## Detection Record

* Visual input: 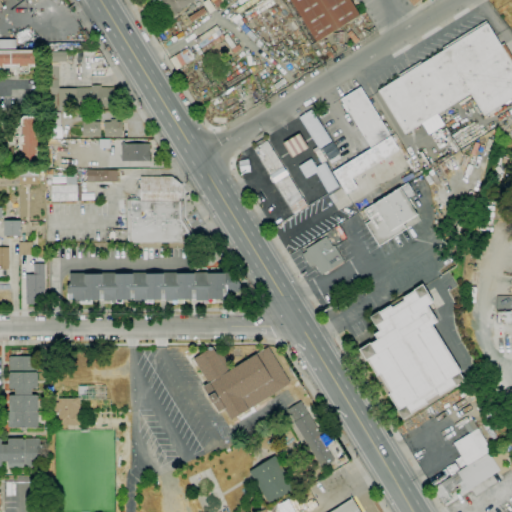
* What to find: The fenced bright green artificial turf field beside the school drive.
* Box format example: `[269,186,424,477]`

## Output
[54,430,116,512]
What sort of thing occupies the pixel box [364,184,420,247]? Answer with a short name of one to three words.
building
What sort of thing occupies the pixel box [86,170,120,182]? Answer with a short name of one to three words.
house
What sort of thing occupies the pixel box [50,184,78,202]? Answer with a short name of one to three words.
shed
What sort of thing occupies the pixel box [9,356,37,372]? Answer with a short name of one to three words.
building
